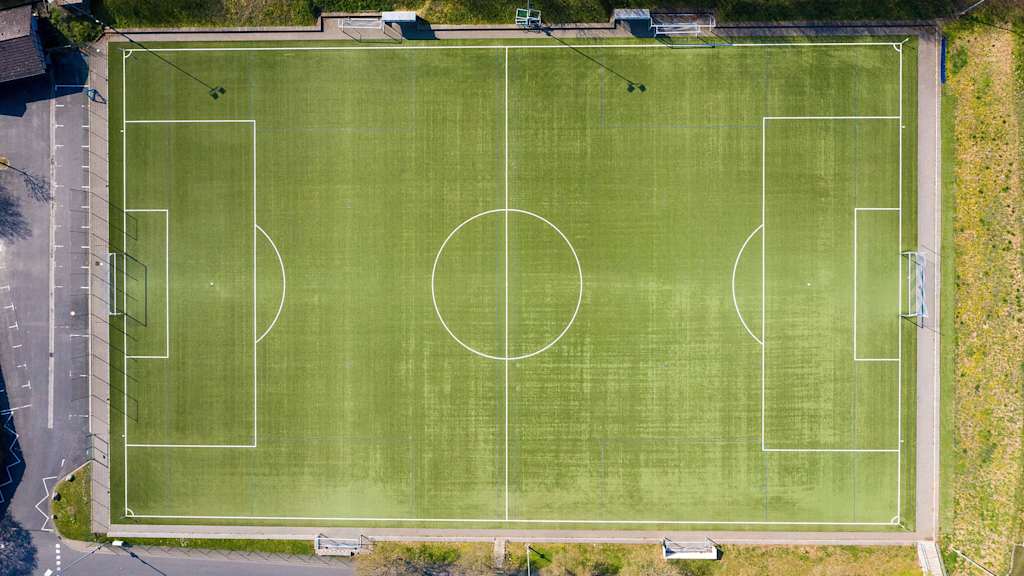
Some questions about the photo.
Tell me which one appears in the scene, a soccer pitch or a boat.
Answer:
soccer pitch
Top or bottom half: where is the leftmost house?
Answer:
top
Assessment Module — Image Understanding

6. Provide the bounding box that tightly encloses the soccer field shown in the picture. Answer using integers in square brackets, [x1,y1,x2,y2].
[109,36,918,532]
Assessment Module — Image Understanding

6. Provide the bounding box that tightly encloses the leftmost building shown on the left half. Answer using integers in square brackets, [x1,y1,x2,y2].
[0,5,52,87]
